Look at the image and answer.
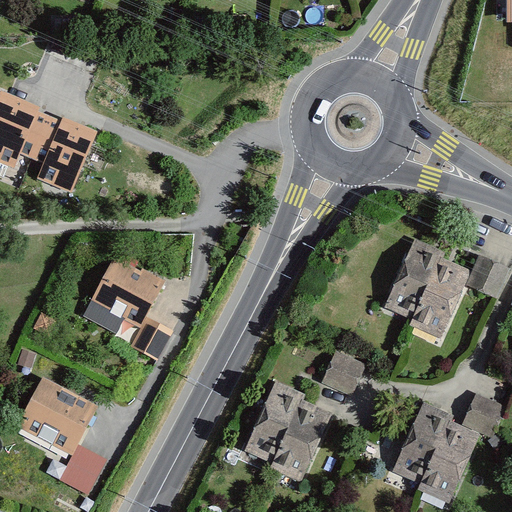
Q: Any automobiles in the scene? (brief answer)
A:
Yes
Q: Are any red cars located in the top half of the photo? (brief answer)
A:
No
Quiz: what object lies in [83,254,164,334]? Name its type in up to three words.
house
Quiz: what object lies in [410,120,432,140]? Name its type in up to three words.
car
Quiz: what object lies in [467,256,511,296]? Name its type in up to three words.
building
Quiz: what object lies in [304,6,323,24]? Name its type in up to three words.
swimming pool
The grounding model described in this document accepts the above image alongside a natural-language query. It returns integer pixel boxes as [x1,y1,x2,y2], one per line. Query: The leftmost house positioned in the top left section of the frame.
[0,89,58,168]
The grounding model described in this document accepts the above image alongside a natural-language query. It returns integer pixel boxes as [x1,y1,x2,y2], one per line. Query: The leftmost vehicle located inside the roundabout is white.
[313,99,330,124]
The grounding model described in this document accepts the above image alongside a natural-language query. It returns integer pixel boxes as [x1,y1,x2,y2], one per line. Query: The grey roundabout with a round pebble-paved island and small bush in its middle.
[290,56,418,188]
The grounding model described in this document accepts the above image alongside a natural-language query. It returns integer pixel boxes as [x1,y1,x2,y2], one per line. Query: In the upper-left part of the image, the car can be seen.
[7,84,29,100]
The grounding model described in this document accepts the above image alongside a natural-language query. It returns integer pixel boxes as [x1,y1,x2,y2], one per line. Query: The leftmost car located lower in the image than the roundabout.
[322,386,345,402]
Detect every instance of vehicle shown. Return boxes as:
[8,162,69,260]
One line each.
[313,99,330,124]
[322,386,345,402]
[482,172,505,189]
[410,120,432,140]
[488,216,512,234]
[7,84,29,100]
[472,222,492,237]
[468,234,488,248]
